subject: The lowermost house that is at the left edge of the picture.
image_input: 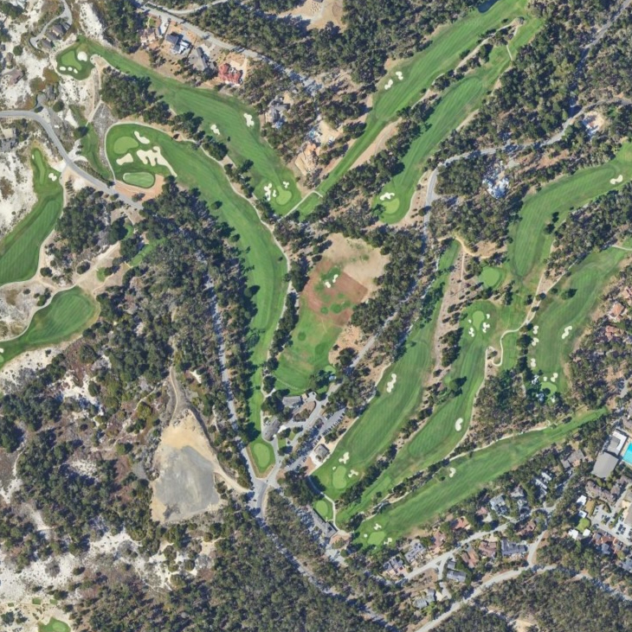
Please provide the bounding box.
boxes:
[0,126,17,150]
